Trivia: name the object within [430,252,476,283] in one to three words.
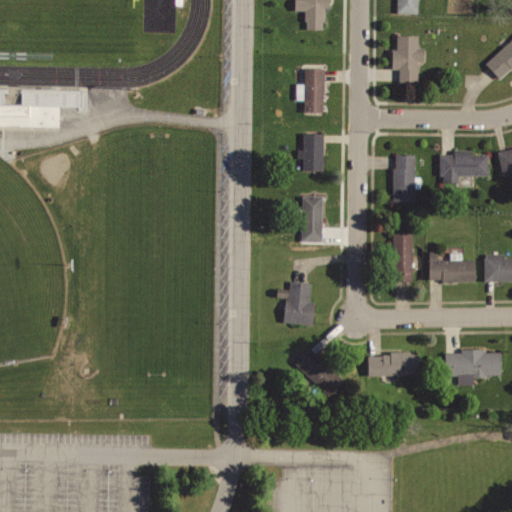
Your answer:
house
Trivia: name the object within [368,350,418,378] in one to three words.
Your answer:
house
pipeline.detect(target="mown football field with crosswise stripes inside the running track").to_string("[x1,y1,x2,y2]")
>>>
[0,0,191,68]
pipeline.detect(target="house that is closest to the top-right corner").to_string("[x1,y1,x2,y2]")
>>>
[482,42,512,86]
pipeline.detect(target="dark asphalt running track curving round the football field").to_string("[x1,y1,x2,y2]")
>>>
[0,0,214,89]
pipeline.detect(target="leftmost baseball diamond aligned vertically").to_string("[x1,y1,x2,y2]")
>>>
[0,158,68,366]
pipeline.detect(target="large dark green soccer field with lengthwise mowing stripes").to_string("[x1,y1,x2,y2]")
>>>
[92,124,216,419]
